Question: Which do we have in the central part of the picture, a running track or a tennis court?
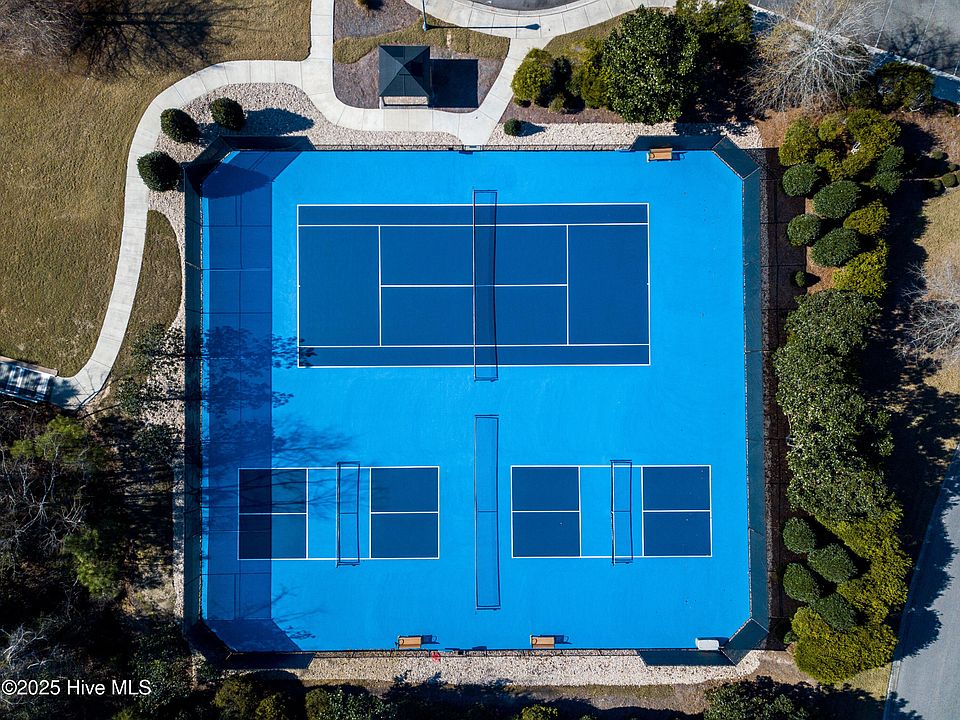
tennis court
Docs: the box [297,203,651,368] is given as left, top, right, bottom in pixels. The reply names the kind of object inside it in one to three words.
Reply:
tennis court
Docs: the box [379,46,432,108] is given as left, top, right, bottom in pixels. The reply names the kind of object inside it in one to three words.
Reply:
building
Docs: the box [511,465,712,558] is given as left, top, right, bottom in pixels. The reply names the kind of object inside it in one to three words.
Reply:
sports court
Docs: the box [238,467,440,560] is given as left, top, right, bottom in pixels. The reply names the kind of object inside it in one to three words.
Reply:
sports court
